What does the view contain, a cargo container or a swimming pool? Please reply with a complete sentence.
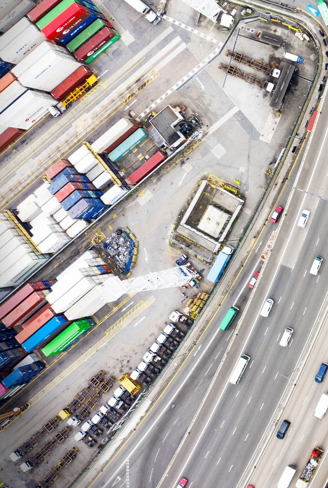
This aerial view contains a cargo container.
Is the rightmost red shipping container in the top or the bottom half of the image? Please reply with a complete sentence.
Seen from above, the rightmost red shipping container lies in the top half of the view.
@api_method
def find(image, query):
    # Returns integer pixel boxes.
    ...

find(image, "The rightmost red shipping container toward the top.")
[128,151,169,186]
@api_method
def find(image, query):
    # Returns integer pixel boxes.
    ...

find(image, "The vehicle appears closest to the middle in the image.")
[175,251,190,269]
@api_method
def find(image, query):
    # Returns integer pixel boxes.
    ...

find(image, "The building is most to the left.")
[146,105,202,149]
